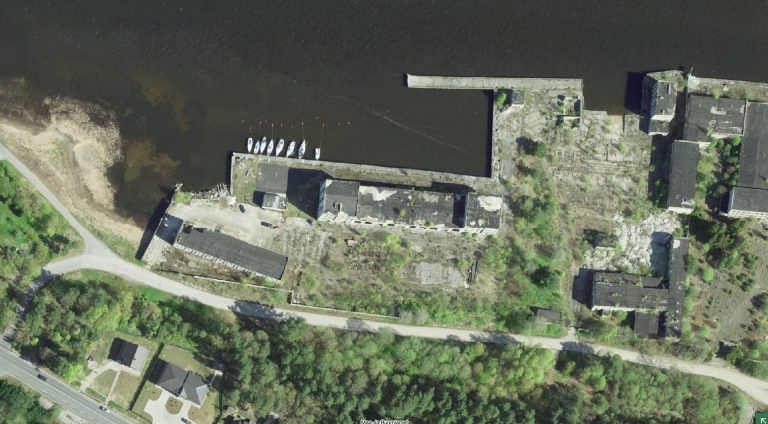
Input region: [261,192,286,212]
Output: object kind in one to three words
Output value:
shed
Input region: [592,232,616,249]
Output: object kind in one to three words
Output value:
building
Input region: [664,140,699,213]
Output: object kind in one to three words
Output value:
building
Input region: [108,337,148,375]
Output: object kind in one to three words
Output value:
house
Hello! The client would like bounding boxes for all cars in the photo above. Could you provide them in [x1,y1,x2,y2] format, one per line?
[38,374,46,381]
[99,405,109,413]
[238,204,244,213]
[182,417,190,424]
[262,222,272,228]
